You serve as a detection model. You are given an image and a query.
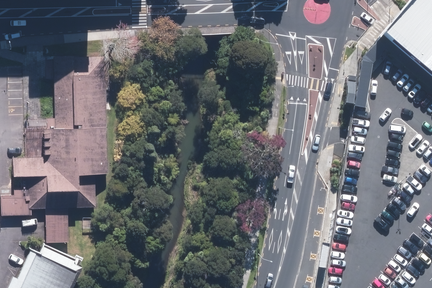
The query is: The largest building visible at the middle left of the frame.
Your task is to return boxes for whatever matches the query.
[0,57,108,243]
